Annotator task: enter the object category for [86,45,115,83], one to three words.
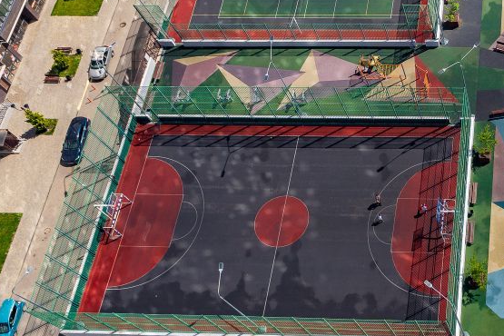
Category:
car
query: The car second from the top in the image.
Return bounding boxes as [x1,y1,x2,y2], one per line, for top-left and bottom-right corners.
[61,119,91,165]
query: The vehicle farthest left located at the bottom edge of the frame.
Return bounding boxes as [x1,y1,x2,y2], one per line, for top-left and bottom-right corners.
[0,300,28,336]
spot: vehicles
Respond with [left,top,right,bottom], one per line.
[0,300,28,336]
[86,45,115,83]
[61,119,91,165]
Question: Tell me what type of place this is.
sports ground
